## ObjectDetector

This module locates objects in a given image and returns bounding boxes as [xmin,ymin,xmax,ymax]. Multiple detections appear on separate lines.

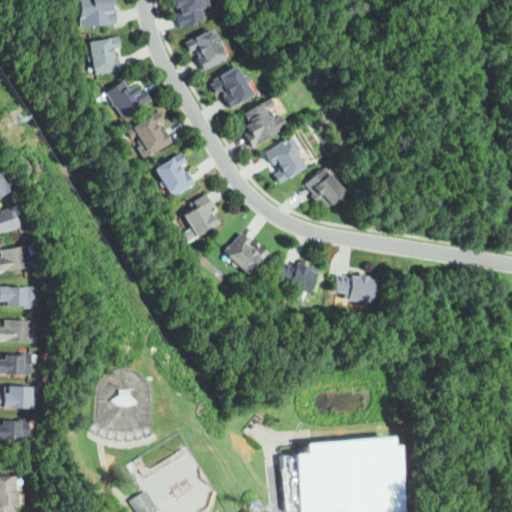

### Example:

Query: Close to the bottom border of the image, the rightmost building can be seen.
[280,436,408,512]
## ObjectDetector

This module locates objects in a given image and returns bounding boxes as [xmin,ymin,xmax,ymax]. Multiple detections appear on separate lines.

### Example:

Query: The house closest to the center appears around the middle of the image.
[226,234,270,274]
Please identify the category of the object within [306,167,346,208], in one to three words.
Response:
house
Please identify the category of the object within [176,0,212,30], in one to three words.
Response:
house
